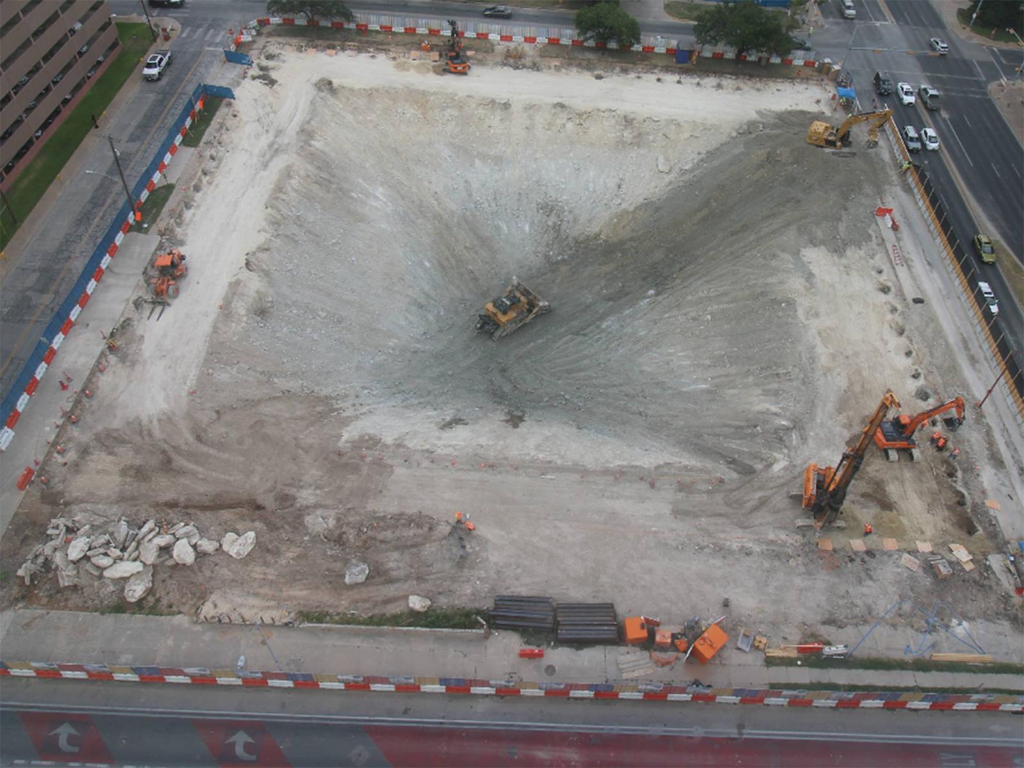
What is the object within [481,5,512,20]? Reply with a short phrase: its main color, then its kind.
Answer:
gray car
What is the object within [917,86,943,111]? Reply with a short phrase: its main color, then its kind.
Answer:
gray truck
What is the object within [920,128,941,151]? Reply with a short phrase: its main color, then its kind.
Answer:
white car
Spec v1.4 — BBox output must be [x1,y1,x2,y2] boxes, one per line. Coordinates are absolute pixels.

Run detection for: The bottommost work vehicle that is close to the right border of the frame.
[872,406,973,456]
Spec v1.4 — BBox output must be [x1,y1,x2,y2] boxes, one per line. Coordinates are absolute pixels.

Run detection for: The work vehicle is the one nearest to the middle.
[476,266,557,332]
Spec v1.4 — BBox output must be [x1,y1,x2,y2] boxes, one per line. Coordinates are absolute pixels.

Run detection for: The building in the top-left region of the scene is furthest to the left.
[0,0,131,191]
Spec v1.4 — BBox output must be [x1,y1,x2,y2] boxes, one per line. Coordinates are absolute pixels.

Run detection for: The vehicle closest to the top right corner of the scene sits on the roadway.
[929,37,951,56]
